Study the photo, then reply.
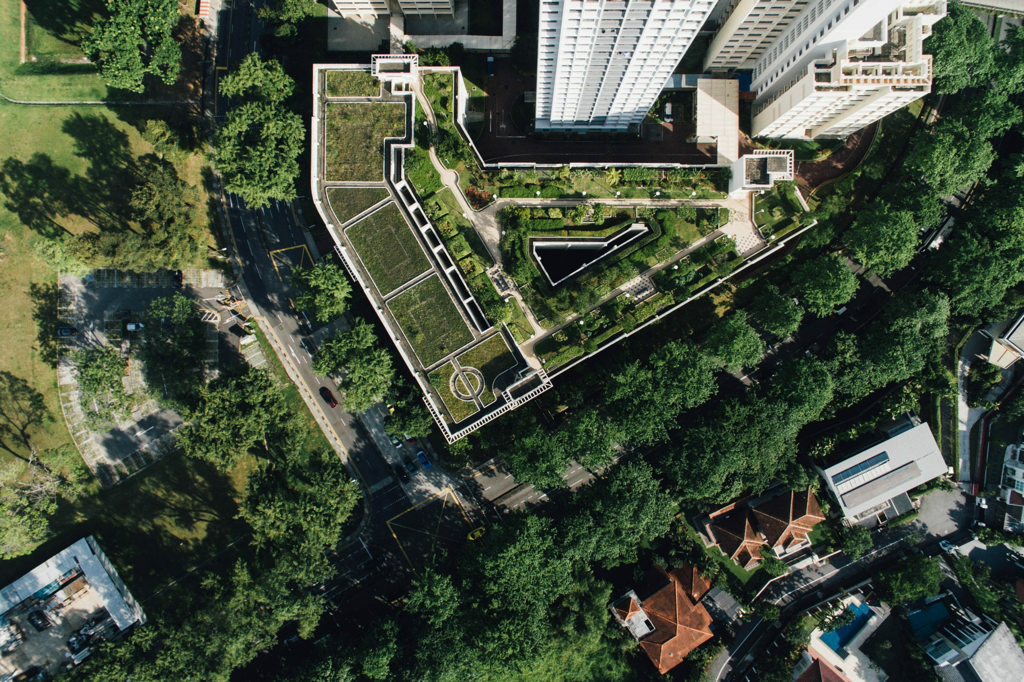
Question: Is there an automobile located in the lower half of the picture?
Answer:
Yes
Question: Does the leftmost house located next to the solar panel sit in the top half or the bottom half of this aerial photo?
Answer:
bottom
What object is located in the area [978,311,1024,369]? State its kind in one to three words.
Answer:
house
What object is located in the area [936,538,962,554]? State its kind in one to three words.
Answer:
car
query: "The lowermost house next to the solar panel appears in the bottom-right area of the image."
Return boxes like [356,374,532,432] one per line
[692,490,827,571]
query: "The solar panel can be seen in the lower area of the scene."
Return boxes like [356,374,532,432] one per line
[832,451,889,484]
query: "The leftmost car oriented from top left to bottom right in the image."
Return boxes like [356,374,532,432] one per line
[320,388,340,410]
